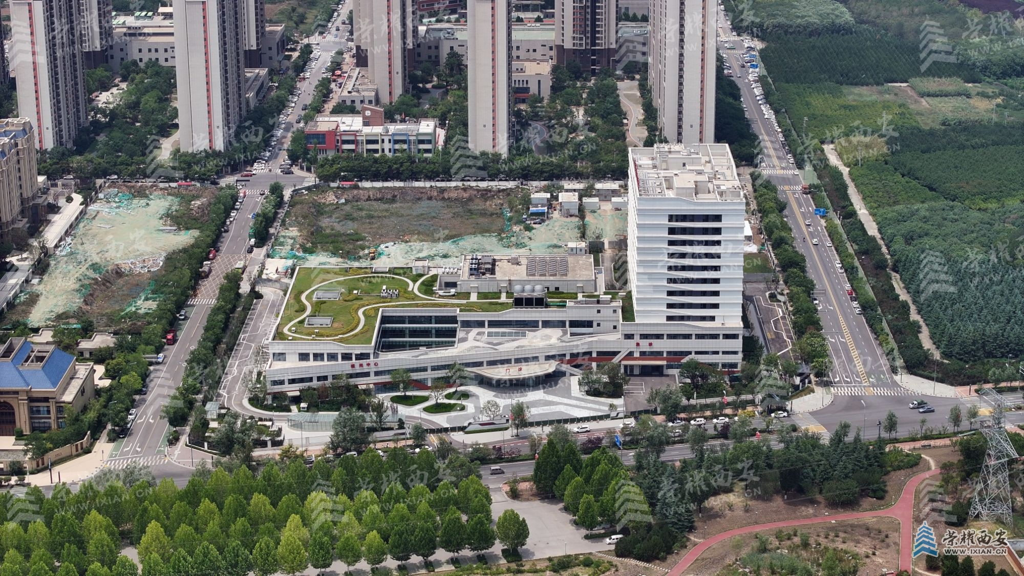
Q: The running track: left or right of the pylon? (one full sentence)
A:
The running track can be seen on the left of the pylon.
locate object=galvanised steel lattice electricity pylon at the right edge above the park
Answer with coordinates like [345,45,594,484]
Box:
[962,382,1024,522]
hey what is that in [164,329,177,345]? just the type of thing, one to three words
vehicle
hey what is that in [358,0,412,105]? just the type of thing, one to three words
building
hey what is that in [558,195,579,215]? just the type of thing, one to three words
building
